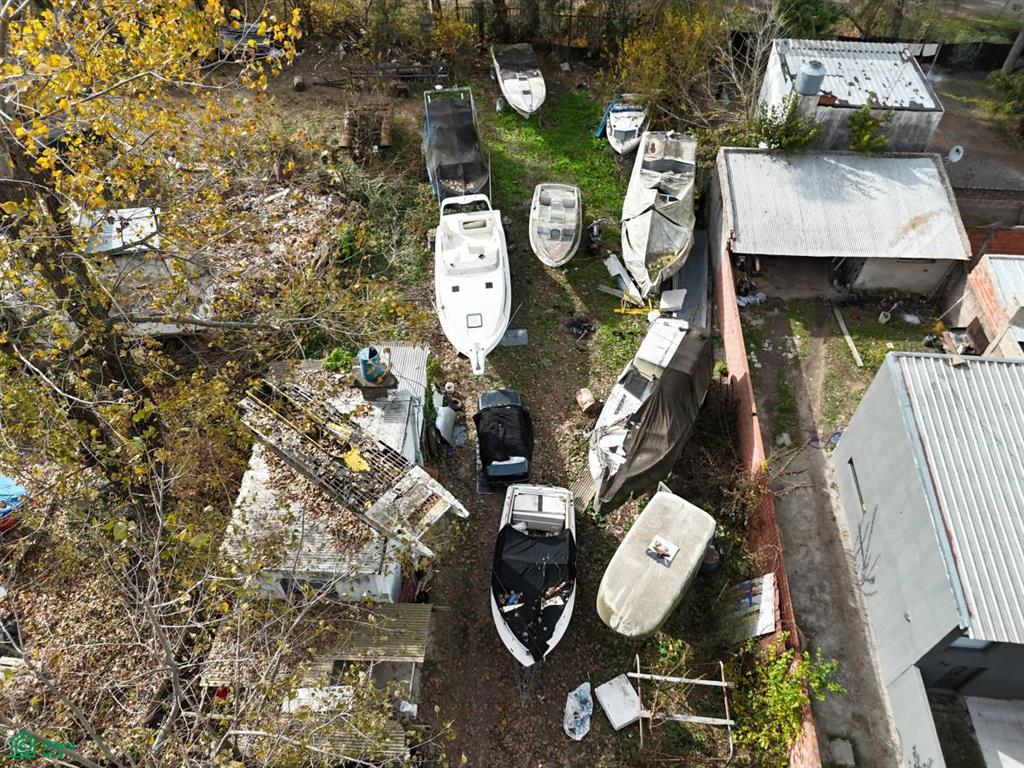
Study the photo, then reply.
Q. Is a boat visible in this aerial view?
Yes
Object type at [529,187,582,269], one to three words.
boat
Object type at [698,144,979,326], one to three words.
building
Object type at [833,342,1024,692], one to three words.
house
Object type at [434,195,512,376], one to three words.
boat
